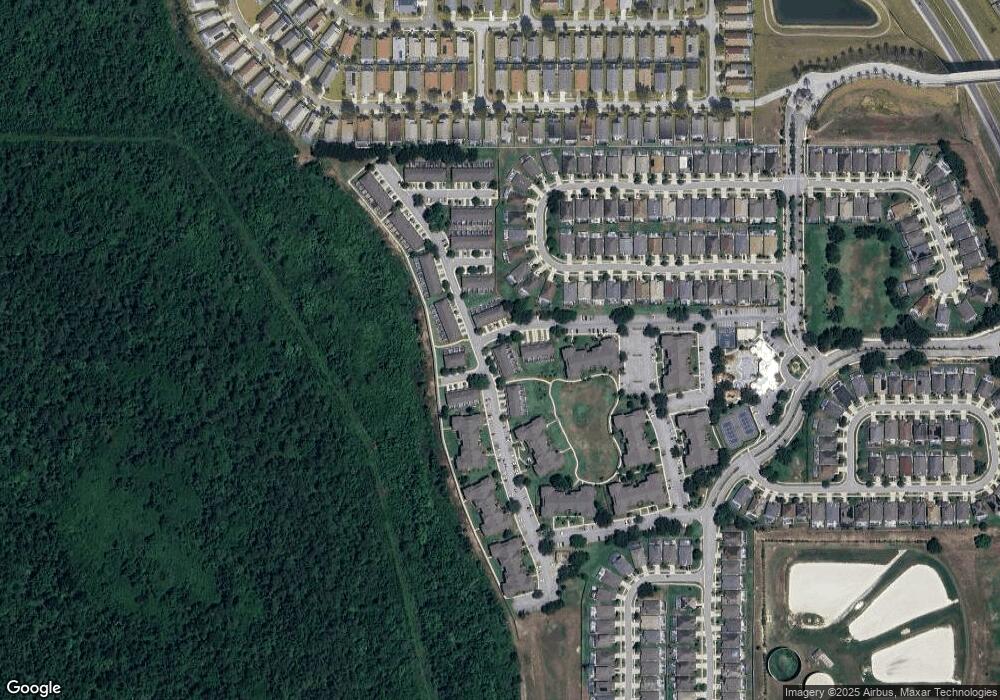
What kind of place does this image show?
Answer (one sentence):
It's a residential area.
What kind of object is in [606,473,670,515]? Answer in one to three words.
building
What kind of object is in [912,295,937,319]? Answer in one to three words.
house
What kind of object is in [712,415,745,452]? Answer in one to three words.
tennis court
